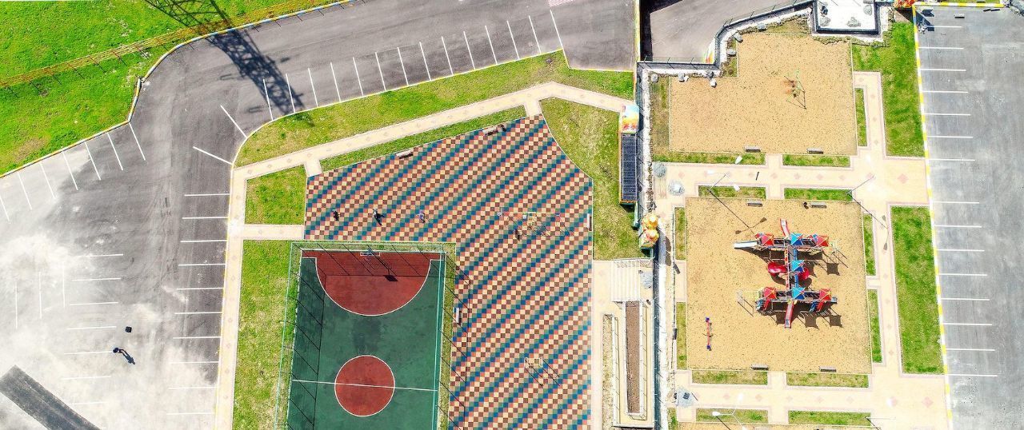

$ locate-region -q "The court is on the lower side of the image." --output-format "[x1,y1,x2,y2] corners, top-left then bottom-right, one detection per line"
[287,249,445,430]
